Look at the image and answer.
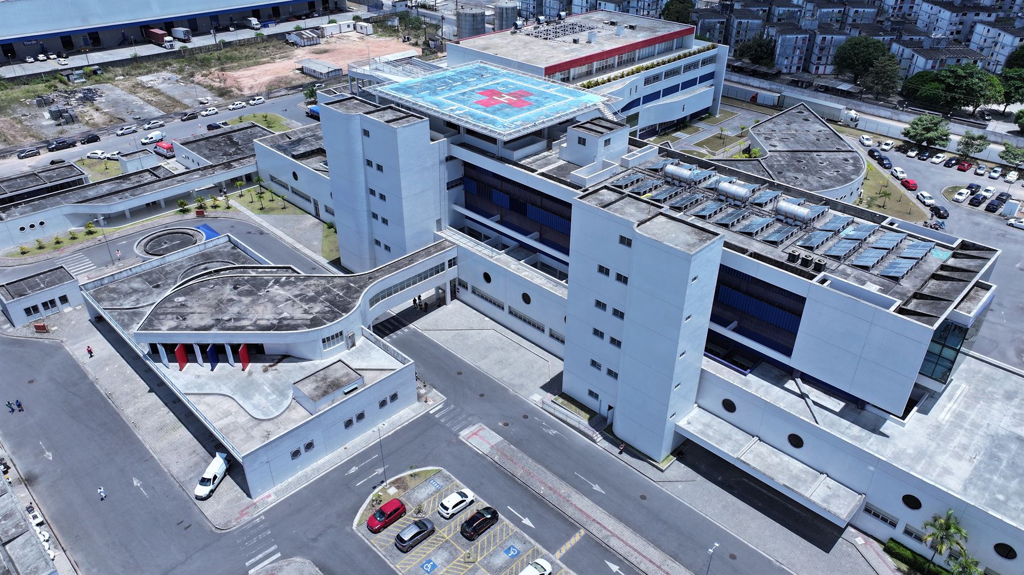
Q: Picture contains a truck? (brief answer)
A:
Yes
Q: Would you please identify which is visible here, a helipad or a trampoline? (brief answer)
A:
helipad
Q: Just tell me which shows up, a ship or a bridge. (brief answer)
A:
bridge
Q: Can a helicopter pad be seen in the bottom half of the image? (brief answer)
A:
No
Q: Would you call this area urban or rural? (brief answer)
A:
urban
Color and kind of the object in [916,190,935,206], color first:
white car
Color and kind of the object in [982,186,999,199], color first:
white vehicle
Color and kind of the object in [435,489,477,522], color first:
white car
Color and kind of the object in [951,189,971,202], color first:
white vehicle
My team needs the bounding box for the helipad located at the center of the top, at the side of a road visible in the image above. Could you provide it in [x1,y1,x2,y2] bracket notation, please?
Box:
[363,59,642,157]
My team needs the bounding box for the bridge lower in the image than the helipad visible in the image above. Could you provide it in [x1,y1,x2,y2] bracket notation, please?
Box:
[361,256,457,331]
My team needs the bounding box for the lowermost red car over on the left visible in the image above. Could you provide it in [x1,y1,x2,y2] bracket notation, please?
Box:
[365,497,408,535]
